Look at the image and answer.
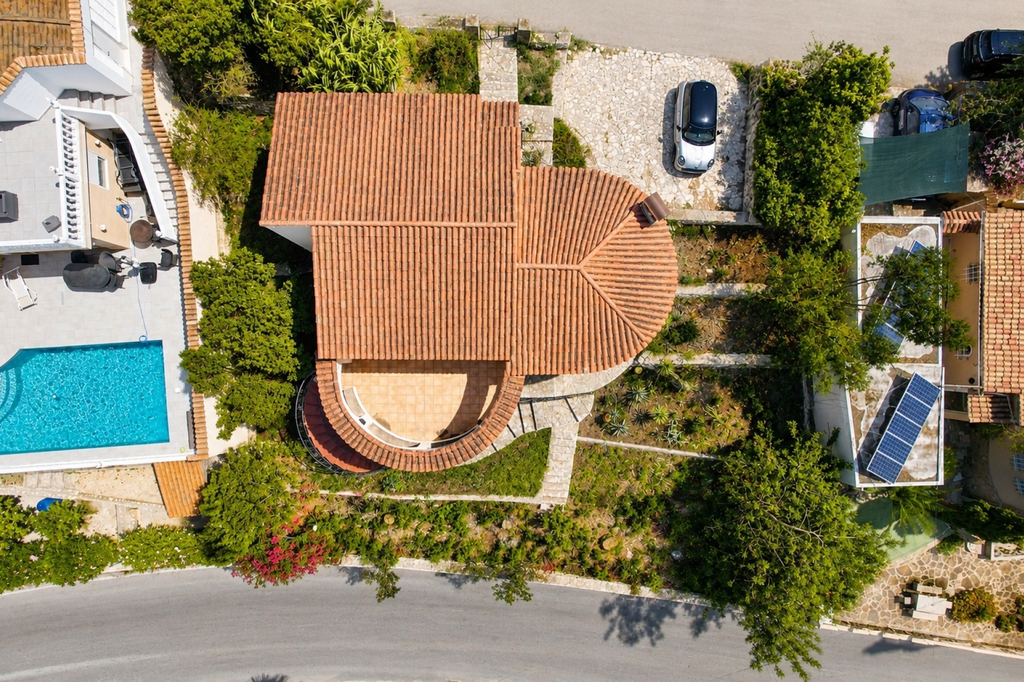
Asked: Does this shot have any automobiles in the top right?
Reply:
Yes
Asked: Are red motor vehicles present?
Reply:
No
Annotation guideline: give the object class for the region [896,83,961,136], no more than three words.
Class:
car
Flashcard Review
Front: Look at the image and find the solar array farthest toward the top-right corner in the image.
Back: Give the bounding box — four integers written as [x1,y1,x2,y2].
[858,240,942,350]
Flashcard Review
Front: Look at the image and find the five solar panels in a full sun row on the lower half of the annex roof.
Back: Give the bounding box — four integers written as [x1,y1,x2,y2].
[848,371,941,485]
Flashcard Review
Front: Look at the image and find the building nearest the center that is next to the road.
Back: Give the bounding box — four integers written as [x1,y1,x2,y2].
[257,92,681,473]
